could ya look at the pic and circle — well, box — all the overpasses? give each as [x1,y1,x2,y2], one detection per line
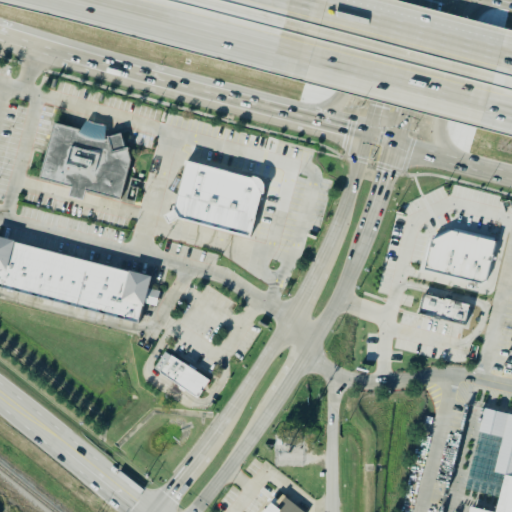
[0,0,512,135]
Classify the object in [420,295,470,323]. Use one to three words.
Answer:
building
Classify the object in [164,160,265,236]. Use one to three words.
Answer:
building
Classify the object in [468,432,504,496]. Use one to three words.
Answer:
house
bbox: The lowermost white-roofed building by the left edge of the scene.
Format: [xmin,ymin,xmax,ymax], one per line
[0,238,151,321]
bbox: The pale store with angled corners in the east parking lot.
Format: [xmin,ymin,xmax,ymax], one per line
[425,230,497,282]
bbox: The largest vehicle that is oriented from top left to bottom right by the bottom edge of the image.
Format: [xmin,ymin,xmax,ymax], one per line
[112,466,144,494]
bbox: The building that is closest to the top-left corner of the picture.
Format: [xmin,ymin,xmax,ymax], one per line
[40,120,131,198]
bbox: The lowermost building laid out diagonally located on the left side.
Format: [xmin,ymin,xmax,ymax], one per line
[155,352,210,398]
